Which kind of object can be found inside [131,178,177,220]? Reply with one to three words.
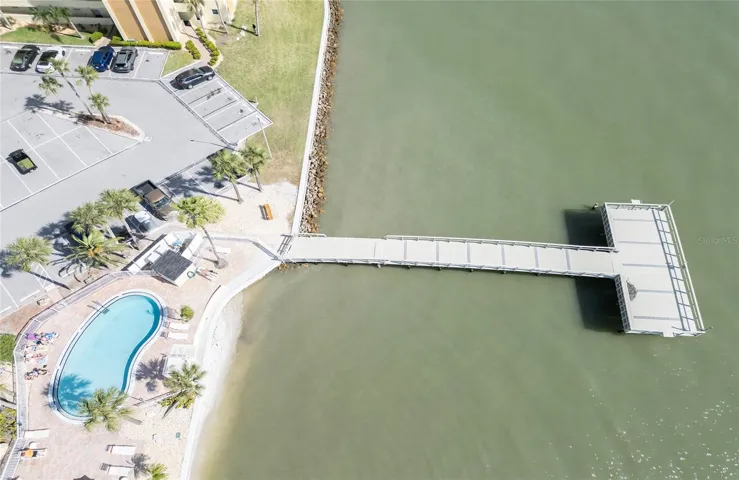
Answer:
truck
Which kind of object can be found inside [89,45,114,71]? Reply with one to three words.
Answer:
car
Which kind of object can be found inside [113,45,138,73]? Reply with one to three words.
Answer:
car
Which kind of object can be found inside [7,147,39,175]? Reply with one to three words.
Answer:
truck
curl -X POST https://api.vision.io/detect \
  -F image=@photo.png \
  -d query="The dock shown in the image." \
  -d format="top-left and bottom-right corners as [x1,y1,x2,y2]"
[279,205,711,339]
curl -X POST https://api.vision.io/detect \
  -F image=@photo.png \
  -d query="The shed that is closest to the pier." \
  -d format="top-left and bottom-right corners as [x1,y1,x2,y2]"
[125,227,201,287]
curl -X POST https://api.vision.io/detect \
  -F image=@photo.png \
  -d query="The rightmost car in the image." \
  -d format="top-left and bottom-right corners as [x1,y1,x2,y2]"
[172,67,214,90]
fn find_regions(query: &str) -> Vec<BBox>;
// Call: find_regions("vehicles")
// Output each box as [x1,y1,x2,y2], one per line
[89,45,114,71]
[39,45,67,73]
[131,178,177,220]
[134,201,162,235]
[113,45,138,73]
[7,147,39,175]
[13,45,43,72]
[172,67,214,90]
[55,219,85,248]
